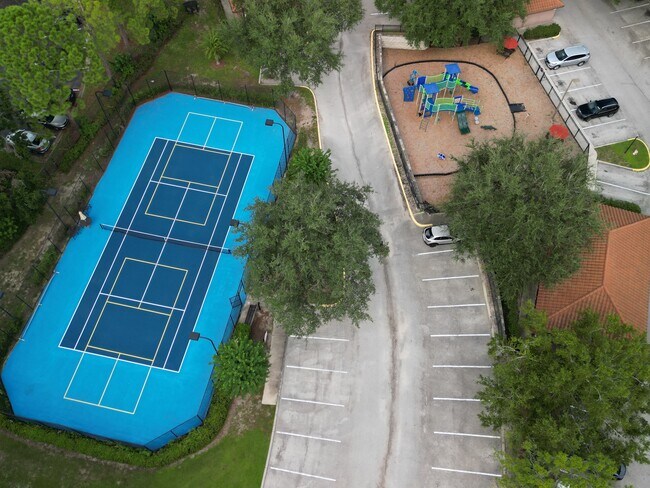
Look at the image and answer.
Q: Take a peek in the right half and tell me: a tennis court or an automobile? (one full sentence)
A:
The one visible in the right half is an automobile.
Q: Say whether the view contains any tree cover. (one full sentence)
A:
Yes, some tree cover is visible.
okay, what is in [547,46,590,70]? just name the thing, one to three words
car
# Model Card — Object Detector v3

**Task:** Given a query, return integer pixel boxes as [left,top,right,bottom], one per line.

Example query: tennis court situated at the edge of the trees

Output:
[2,92,295,452]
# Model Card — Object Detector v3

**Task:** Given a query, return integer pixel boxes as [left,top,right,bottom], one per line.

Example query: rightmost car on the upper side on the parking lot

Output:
[576,96,622,122]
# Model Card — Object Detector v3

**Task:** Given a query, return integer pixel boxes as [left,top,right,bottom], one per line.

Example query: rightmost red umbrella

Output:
[548,126,567,142]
